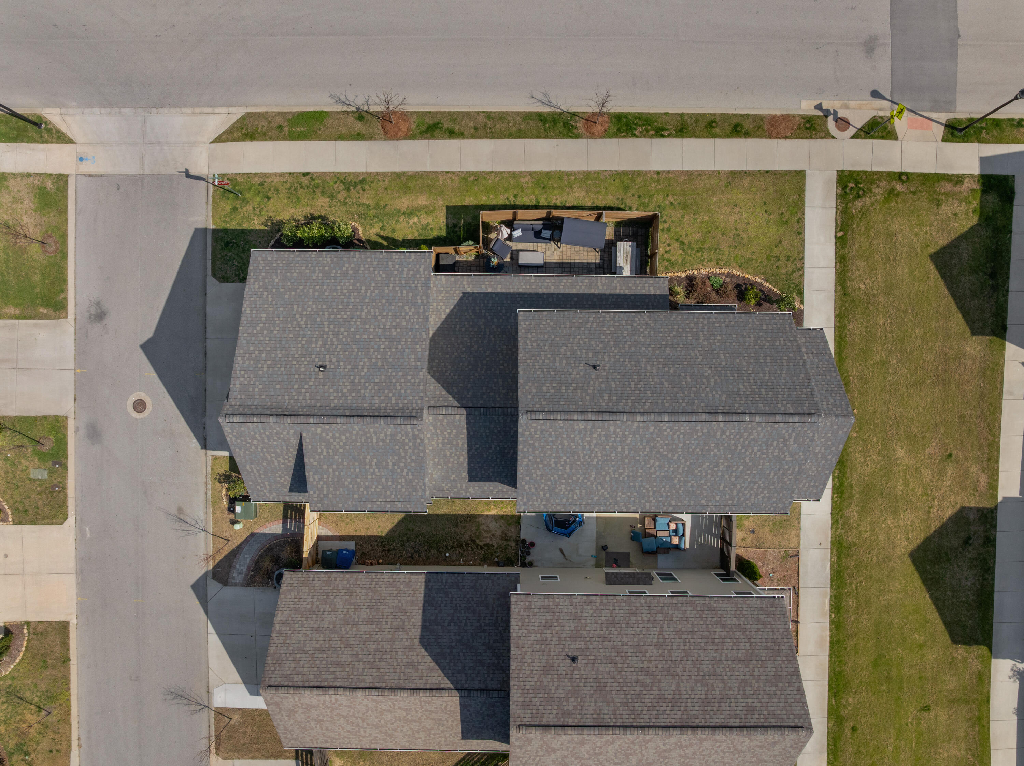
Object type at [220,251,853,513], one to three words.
house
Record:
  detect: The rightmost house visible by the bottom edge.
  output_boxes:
[261,559,814,766]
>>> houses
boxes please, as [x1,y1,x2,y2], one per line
[261,559,814,766]
[220,251,853,513]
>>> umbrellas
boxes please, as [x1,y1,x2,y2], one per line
[494,220,511,238]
